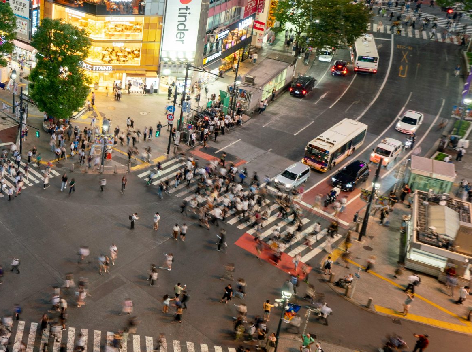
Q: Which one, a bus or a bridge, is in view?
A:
bus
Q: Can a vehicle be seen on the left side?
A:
No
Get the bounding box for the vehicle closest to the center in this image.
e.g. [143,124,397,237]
[278,159,316,192]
